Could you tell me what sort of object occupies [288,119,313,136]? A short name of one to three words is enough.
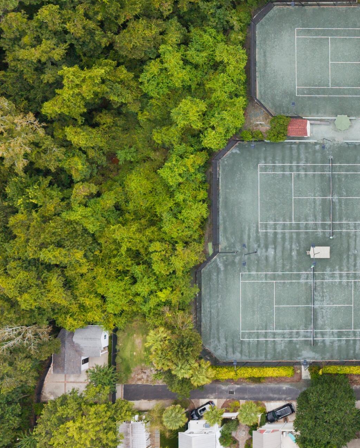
shed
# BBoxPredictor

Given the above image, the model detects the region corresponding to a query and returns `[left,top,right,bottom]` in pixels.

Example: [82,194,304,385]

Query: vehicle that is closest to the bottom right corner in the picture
[265,402,297,421]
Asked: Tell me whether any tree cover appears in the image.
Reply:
Yes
